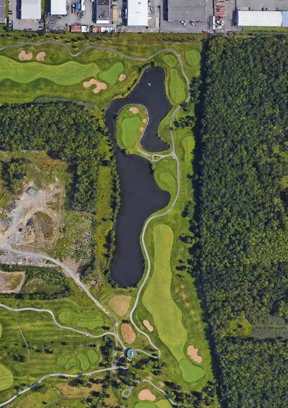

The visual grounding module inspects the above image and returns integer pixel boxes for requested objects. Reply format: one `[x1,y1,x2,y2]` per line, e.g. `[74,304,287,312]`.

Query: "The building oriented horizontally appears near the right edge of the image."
[236,11,282,27]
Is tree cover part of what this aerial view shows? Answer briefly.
Yes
